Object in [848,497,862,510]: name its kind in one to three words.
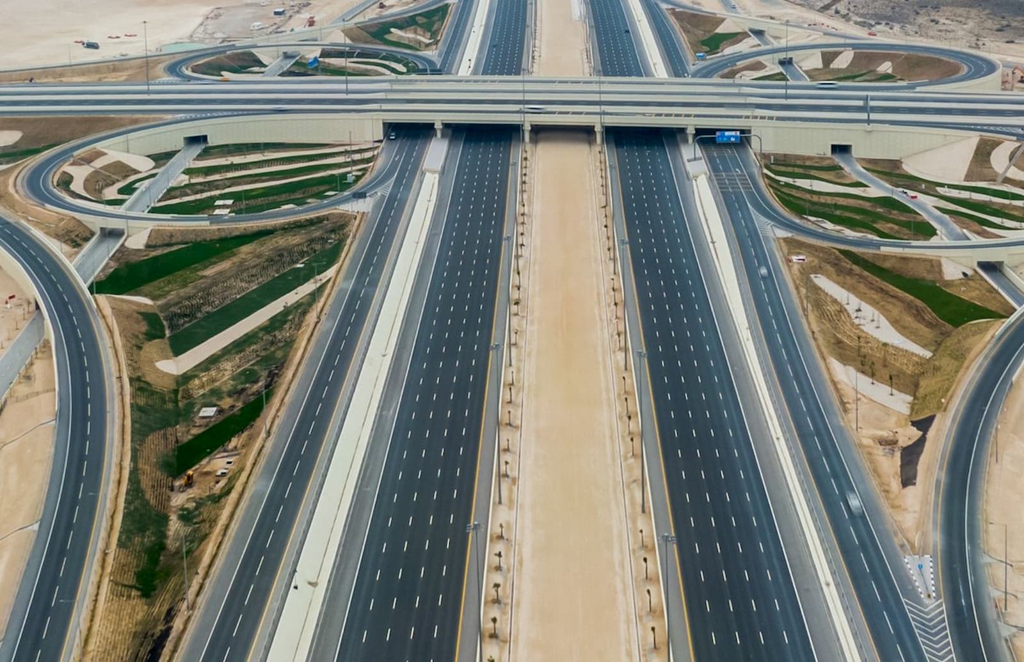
vehicle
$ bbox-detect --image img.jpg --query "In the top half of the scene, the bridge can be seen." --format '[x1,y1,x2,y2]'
[383,75,754,152]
